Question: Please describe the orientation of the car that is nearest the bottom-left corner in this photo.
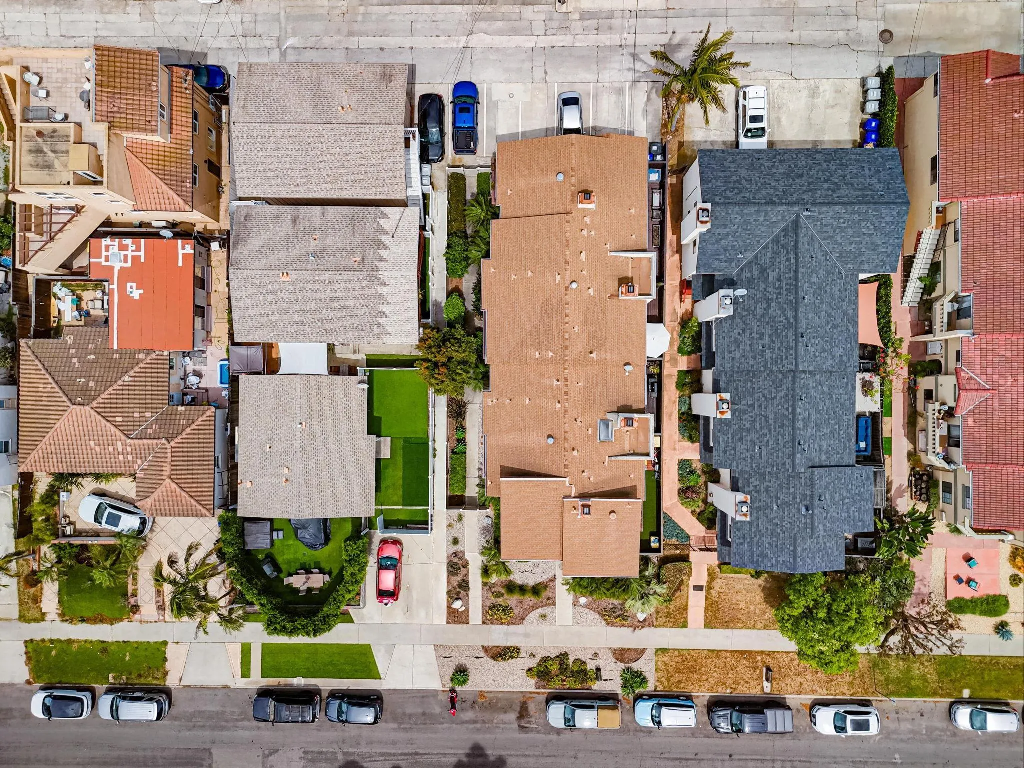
from left to right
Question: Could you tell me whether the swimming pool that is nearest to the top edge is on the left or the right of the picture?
left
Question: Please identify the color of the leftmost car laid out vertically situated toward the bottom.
red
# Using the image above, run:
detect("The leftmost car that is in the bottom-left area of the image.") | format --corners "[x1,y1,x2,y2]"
[33,689,96,721]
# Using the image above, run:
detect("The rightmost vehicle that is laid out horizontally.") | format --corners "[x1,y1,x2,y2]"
[948,702,1020,735]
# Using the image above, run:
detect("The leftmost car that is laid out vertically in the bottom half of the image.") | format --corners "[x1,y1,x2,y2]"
[374,538,404,605]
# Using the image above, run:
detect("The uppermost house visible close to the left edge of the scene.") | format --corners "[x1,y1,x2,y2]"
[0,44,216,281]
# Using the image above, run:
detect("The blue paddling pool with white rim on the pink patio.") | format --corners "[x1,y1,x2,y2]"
[215,360,235,388]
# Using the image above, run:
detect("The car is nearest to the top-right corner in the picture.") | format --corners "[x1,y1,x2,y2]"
[735,85,768,149]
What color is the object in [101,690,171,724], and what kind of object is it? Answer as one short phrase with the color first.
white car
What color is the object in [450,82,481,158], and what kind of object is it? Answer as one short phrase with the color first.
blue truck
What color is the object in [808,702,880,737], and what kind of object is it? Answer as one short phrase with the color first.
white car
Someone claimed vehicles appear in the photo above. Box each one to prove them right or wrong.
[556,87,586,136]
[33,689,96,721]
[448,687,457,716]
[547,697,620,731]
[735,85,768,149]
[81,494,159,537]
[326,695,384,728]
[101,690,171,724]
[167,62,232,95]
[948,702,1020,735]
[450,82,481,158]
[254,693,322,726]
[634,697,697,730]
[709,702,793,737]
[374,538,404,605]
[808,702,880,737]
[417,94,447,165]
